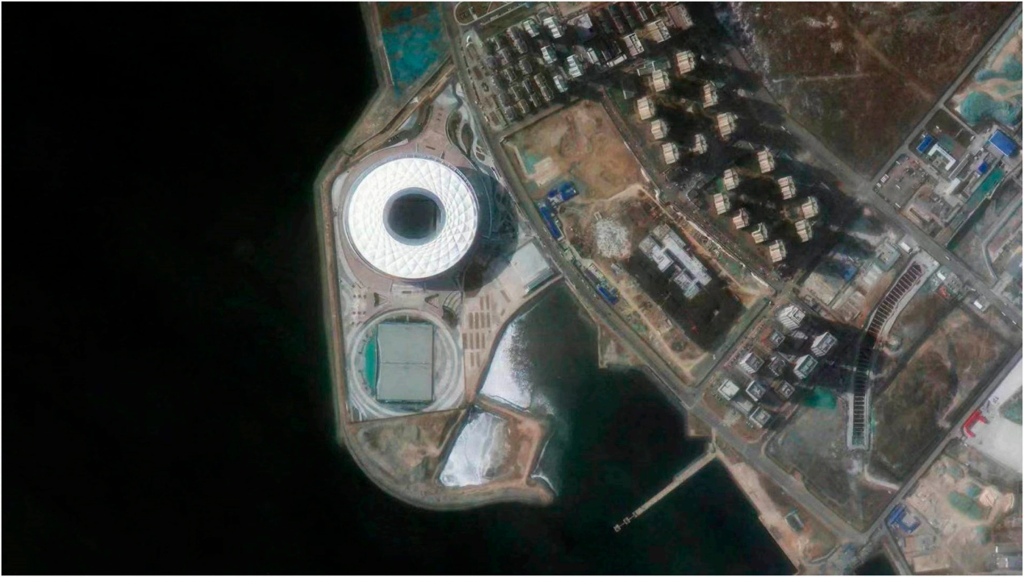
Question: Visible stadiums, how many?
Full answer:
The photo contains exactly 1 stadium.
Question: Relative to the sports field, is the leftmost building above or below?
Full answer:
The leftmost building is located below the sports field in this view.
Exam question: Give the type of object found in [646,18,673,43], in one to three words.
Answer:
building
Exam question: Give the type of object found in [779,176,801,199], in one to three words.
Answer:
building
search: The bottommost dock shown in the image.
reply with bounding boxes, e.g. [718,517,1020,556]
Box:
[635,443,719,516]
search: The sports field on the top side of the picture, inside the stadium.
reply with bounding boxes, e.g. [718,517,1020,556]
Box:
[387,201,433,238]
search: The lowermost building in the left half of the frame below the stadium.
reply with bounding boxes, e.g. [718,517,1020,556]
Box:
[377,322,434,403]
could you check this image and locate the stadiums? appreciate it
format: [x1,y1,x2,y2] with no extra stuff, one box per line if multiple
[343,153,479,284]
